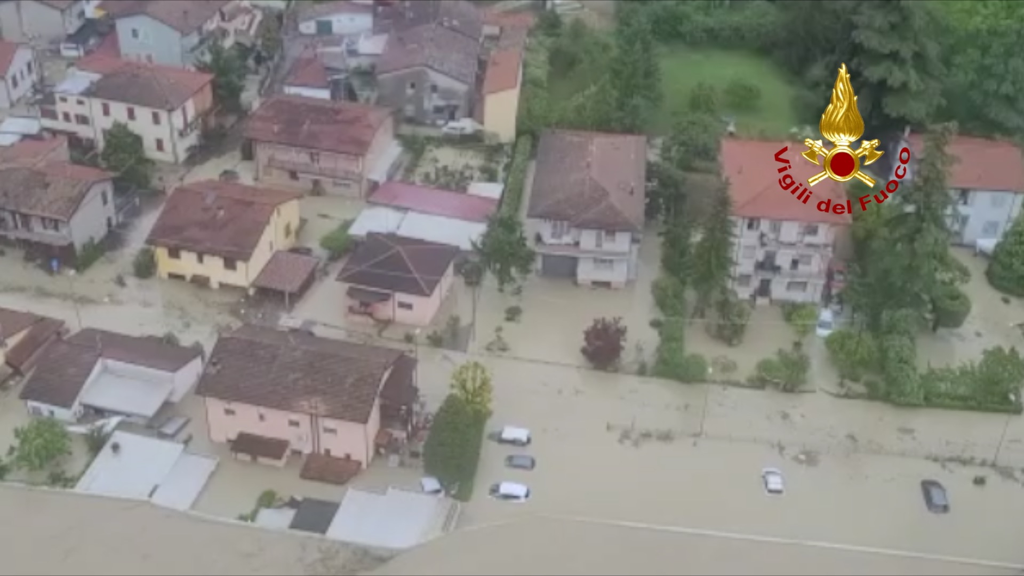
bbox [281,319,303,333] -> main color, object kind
white car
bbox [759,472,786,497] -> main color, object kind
white car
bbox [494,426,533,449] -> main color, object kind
white vehicle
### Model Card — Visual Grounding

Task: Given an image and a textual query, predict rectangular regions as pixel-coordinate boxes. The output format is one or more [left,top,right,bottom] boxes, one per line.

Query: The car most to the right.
[919,480,953,518]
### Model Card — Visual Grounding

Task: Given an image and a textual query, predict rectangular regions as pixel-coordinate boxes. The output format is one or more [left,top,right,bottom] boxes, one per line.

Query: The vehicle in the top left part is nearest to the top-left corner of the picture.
[58,37,85,58]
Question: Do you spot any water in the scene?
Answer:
Yes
